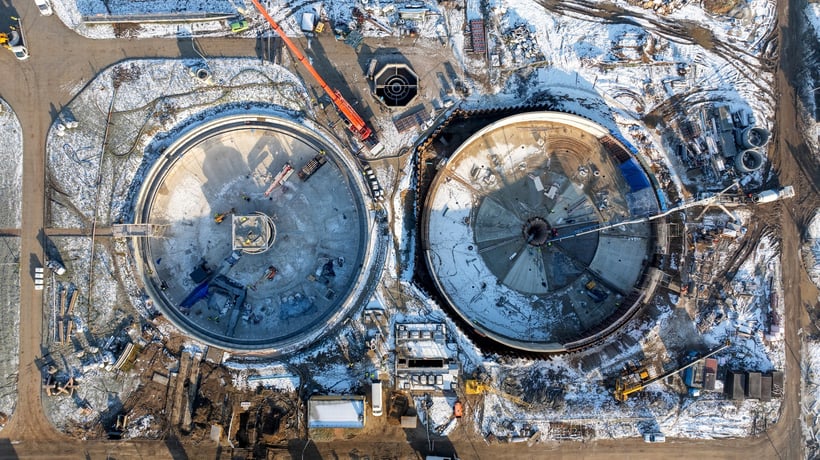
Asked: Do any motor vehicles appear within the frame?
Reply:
Yes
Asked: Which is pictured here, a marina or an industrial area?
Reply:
industrial area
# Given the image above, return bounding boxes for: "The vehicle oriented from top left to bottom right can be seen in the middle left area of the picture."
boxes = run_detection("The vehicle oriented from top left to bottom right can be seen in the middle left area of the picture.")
[37,253,66,279]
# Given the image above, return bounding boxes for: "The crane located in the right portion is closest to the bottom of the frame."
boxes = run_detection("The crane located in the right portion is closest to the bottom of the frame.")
[615,345,730,398]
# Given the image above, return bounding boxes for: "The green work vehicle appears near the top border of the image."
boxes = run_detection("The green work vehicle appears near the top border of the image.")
[229,17,248,31]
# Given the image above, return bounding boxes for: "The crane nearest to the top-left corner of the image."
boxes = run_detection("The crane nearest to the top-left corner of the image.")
[254,0,394,159]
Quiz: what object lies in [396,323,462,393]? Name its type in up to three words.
building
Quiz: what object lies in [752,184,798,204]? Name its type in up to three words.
vehicle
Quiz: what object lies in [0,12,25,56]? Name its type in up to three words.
truck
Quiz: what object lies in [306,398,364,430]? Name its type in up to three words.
shed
